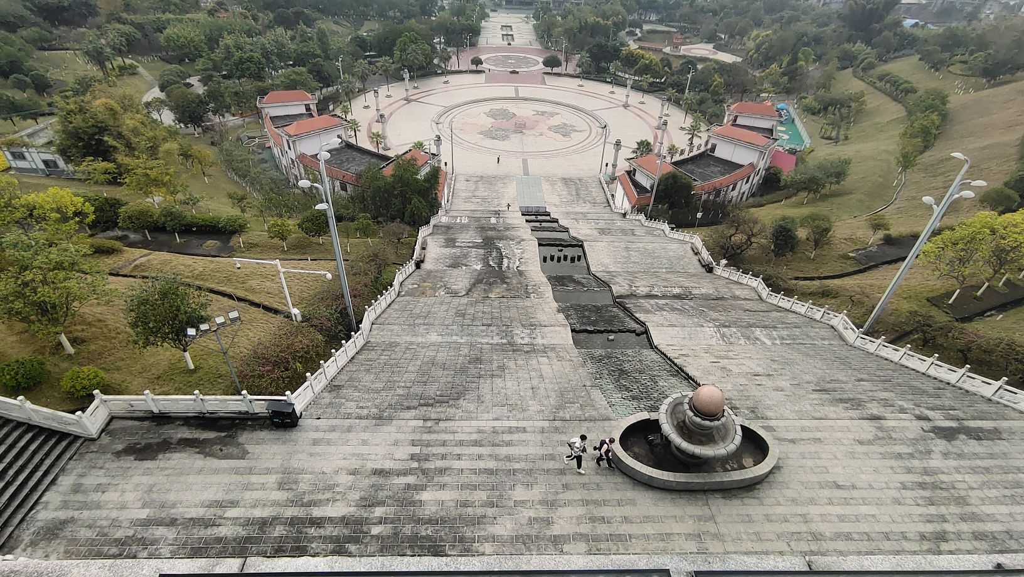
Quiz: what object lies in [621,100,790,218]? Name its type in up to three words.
building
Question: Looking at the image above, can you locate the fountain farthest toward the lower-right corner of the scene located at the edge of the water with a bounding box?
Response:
[611,386,784,491]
